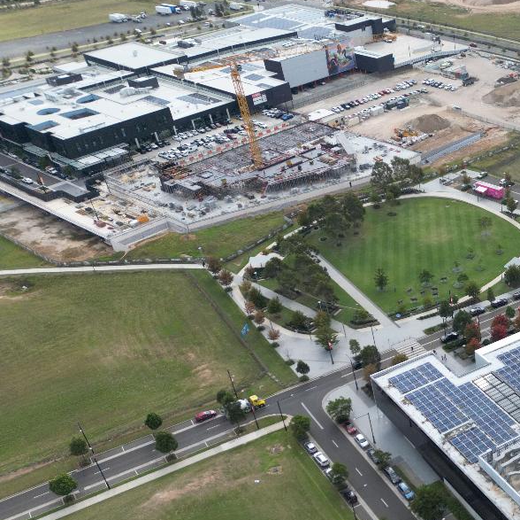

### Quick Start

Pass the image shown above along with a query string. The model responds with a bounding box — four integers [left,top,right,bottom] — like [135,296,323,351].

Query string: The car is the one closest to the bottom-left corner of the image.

[195,410,217,423]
